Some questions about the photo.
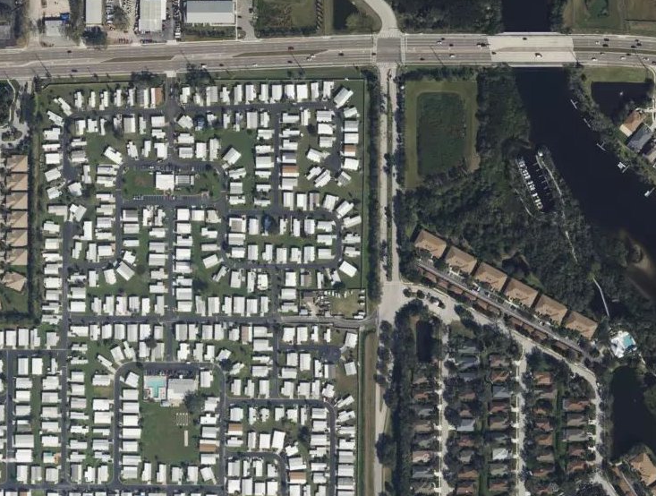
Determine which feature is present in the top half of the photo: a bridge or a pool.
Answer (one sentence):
Looking in the top half of the photo, you will find a bridge.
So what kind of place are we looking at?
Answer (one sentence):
The area seen from above is a residential area.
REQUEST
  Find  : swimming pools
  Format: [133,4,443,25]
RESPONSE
[144,376,167,400]
[611,332,637,358]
